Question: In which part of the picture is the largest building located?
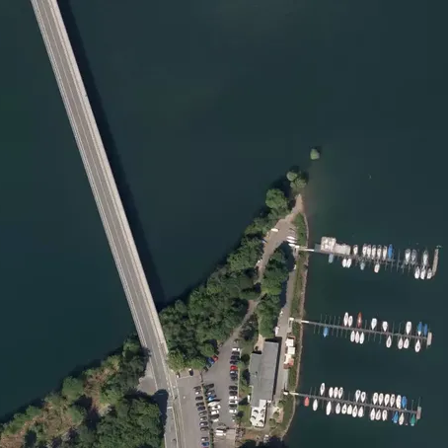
bottom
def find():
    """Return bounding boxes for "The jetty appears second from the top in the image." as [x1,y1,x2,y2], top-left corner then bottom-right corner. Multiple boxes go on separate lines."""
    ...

[293,313,433,346]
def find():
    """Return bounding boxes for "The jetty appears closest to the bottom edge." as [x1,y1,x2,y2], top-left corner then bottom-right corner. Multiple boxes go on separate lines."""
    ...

[289,385,421,420]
